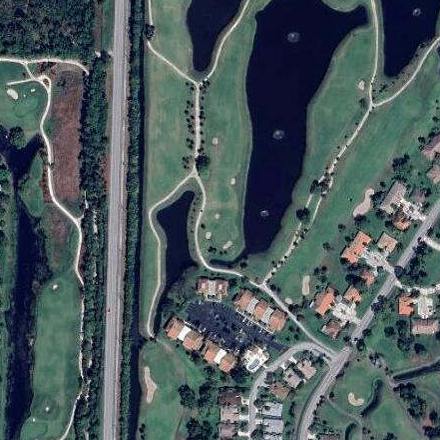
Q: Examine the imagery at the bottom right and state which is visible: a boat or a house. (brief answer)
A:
house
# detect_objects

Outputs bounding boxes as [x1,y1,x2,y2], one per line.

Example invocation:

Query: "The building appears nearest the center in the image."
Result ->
[197,279,227,301]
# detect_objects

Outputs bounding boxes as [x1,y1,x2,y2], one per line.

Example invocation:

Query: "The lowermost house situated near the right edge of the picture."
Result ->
[412,316,439,336]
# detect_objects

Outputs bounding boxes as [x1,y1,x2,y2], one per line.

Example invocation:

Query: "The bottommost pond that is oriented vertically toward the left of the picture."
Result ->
[153,190,197,333]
